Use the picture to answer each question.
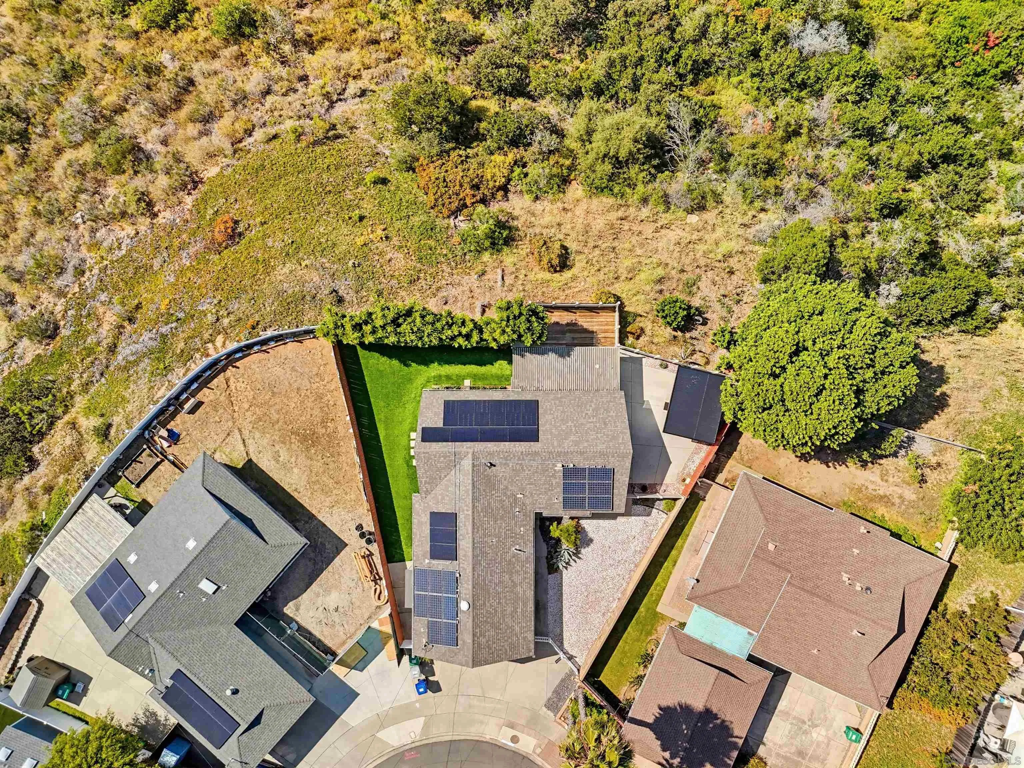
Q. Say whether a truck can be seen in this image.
No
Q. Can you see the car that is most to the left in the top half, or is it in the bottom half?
bottom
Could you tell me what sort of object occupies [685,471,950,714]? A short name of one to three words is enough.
house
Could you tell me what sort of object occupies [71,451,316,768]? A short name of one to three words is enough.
house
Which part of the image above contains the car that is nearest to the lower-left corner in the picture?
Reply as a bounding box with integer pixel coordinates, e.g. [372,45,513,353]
[155,732,197,768]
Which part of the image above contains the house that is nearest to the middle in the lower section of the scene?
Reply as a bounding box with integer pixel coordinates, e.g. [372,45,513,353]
[412,390,633,668]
